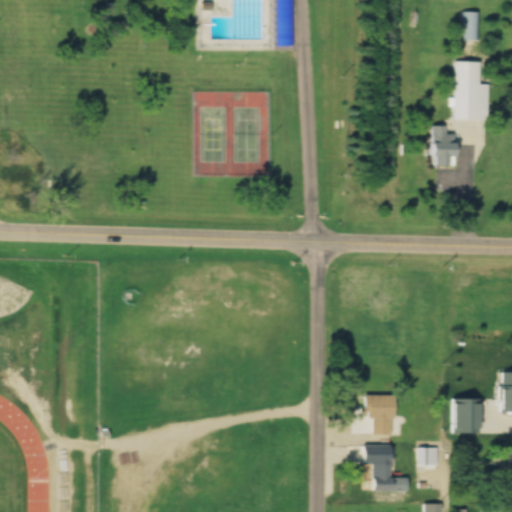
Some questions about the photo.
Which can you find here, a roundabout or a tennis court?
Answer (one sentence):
The one in the frame is a tennis court.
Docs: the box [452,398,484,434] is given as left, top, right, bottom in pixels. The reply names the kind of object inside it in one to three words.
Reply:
house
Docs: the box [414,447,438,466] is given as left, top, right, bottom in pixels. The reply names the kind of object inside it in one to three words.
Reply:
building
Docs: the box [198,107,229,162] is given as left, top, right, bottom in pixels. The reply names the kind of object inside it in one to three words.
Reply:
tennis court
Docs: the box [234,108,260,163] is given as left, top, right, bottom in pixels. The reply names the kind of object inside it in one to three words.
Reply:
tennis court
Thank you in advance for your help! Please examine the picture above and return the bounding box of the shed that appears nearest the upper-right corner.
[460,12,480,40]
